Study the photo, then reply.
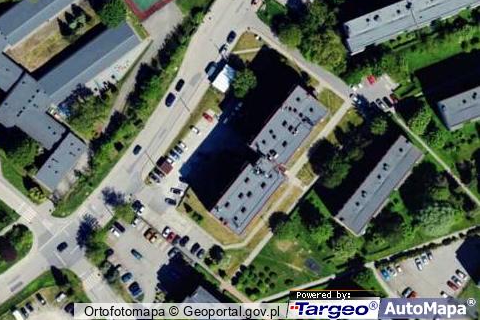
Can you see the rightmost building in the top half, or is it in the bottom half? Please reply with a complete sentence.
Seen from above, the rightmost building lies in the top half of the view.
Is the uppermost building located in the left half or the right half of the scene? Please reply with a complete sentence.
It is on the right.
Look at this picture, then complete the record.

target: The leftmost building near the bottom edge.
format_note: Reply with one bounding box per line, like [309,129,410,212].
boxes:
[177,286,241,320]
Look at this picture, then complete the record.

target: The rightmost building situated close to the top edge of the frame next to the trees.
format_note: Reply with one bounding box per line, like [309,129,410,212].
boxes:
[343,0,480,56]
